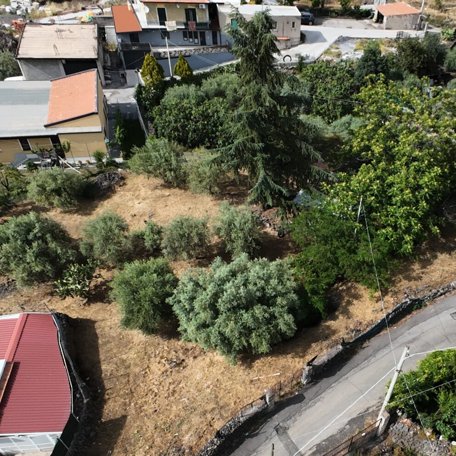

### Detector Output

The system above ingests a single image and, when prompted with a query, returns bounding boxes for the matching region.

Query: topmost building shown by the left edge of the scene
[17,22,103,90]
